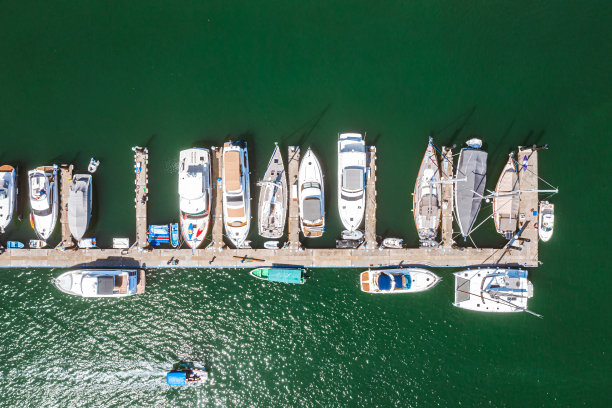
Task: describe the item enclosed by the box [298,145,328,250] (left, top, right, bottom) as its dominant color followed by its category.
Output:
white boat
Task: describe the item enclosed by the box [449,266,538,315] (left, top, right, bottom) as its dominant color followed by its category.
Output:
white boat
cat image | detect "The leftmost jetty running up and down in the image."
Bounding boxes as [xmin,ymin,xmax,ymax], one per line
[54,166,80,249]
